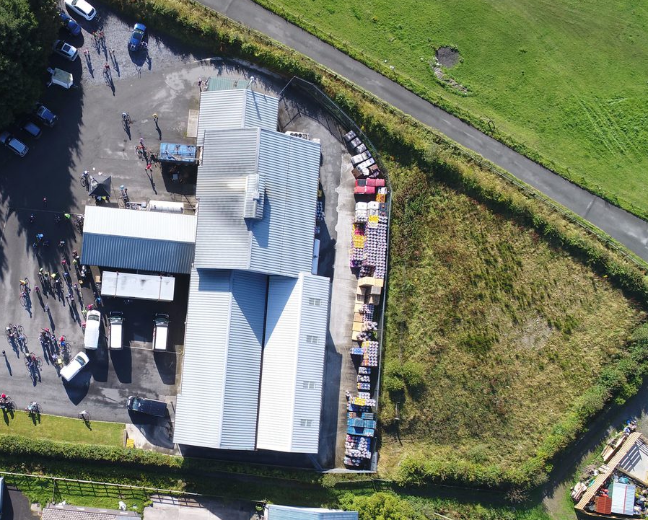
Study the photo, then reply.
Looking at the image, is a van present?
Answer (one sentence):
Yes, a van can be made out from above.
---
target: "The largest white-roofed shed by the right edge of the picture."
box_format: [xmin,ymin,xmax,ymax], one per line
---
[604,482,636,515]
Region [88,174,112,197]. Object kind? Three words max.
gazebo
